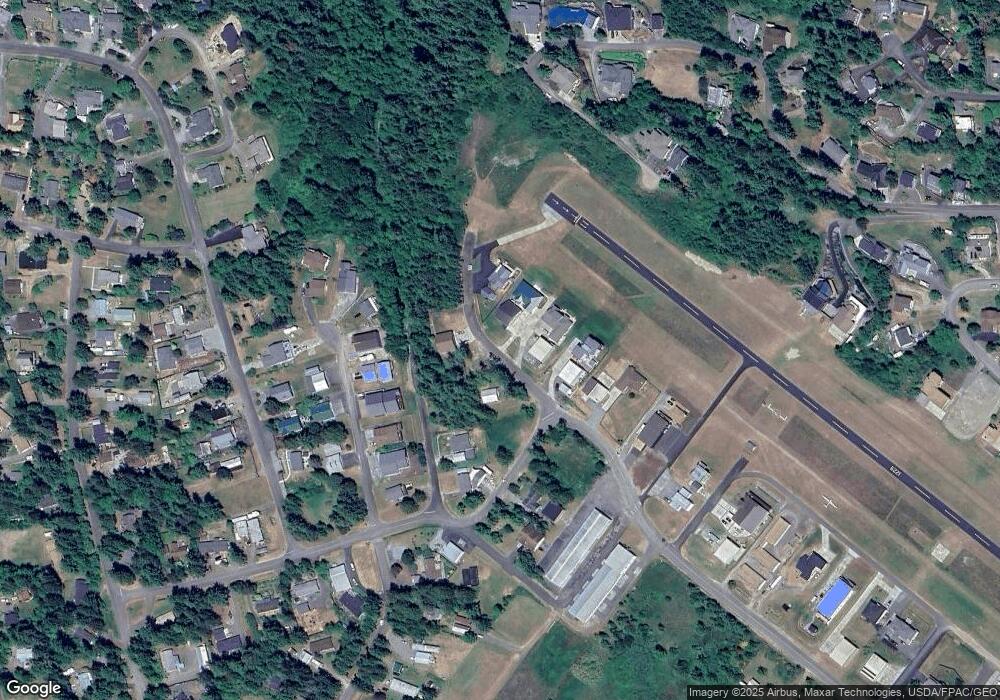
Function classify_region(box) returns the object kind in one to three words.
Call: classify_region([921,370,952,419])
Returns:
house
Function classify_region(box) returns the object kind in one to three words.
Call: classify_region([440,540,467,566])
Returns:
hangar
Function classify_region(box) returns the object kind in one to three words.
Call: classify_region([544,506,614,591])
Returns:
building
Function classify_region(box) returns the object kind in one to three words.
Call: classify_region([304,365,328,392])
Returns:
shed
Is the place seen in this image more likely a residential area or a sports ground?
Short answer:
residential area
